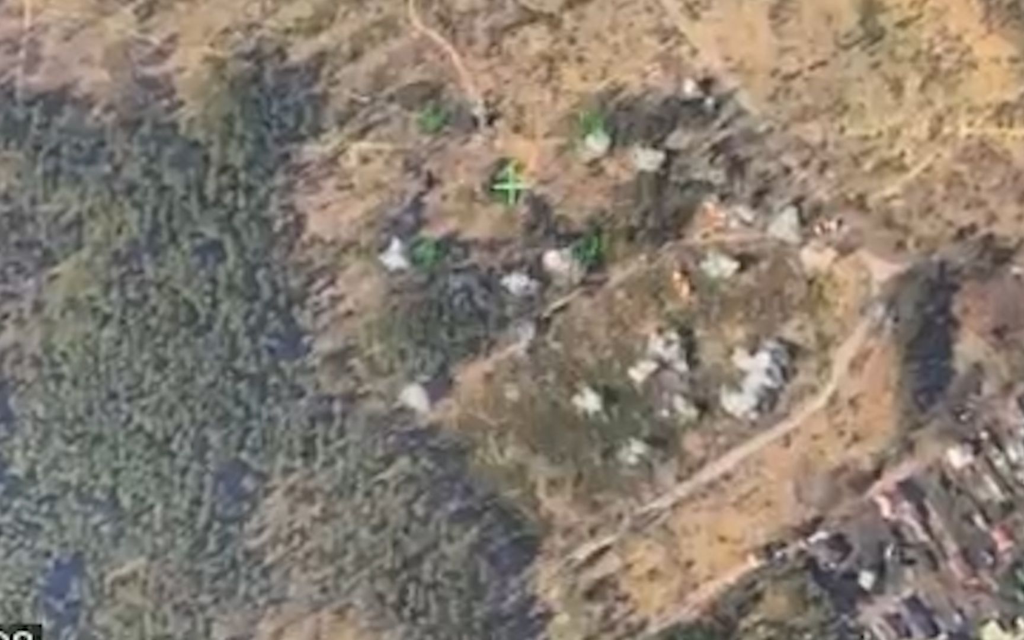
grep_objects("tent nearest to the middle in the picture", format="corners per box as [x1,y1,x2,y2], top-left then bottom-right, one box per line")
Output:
[542,251,568,276]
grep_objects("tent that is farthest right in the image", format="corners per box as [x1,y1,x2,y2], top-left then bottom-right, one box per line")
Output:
[767,207,802,242]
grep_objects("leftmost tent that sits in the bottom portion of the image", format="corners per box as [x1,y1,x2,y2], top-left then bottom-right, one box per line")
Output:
[400,385,430,419]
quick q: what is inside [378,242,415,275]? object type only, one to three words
tent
